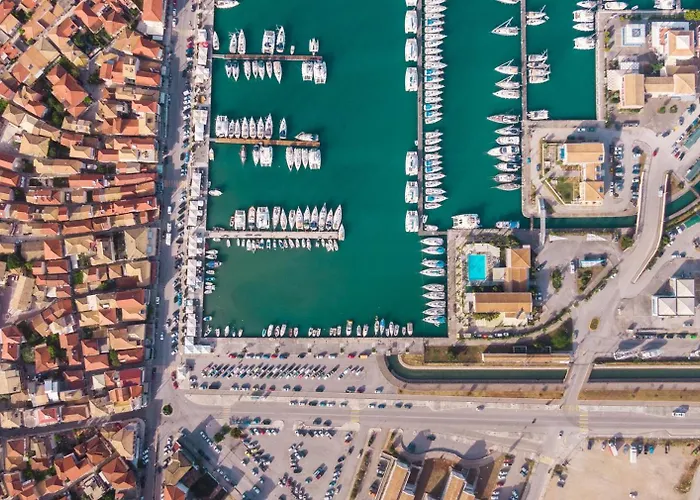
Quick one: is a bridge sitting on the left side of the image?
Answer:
No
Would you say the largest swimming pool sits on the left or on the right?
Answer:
right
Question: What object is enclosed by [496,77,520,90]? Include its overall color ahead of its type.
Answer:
white boat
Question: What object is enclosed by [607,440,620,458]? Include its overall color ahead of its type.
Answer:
white vehicle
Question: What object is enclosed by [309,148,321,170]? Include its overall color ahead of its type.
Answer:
white boat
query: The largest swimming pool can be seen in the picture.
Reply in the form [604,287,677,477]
[464,242,500,288]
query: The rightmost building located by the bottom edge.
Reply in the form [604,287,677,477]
[439,460,481,500]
